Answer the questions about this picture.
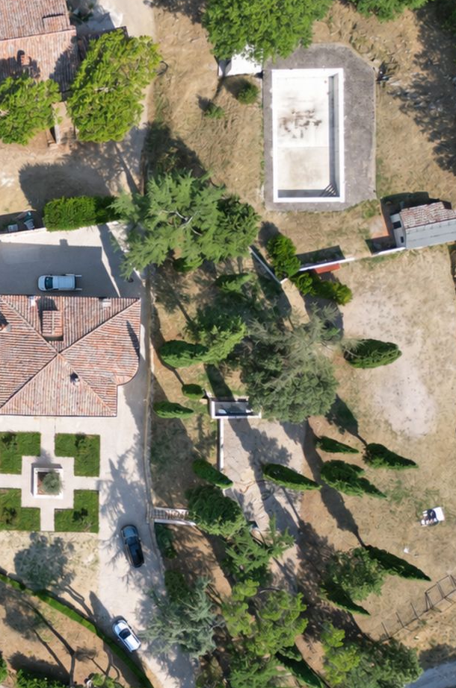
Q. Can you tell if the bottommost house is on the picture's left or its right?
left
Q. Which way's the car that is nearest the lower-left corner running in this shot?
diagonally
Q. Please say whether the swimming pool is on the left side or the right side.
right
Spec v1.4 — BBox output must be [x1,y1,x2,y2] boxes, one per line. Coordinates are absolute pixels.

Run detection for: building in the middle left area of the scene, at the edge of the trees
[0,294,142,417]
